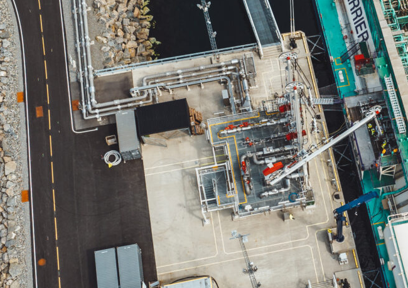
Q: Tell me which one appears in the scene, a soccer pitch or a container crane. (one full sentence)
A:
It is a container crane that can be seen here.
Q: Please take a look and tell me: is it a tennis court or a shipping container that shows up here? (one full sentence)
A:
Visible in the photo is a shipping container.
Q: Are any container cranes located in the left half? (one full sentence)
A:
No, I see no container crane in the left half.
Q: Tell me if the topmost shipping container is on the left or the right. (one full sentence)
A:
The topmost shipping container sits on the left side.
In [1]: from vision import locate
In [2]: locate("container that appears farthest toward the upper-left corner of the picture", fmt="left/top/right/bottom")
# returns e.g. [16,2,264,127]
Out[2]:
[114,107,139,158]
